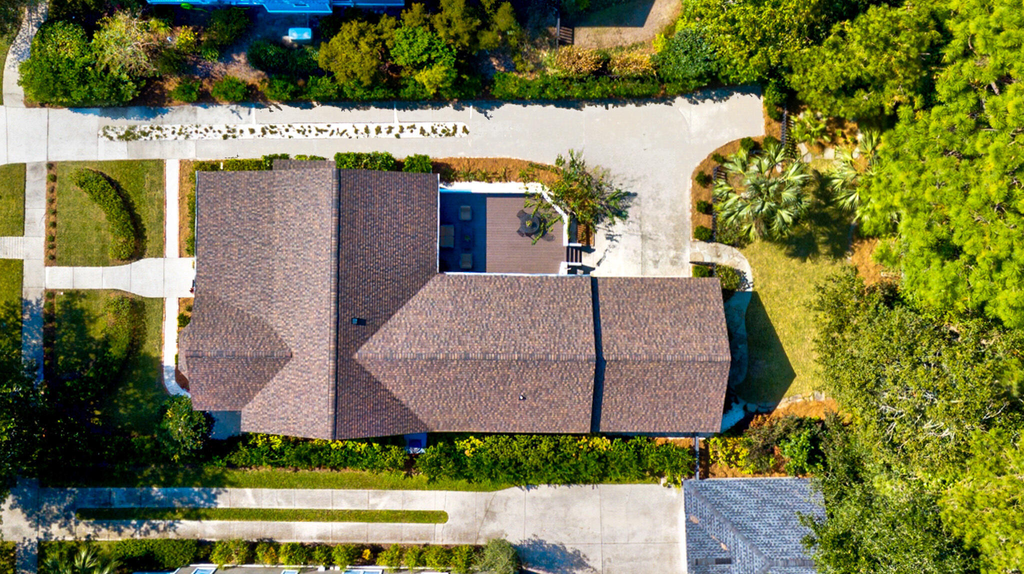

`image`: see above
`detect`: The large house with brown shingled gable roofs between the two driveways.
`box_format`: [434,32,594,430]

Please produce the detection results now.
[179,160,731,439]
